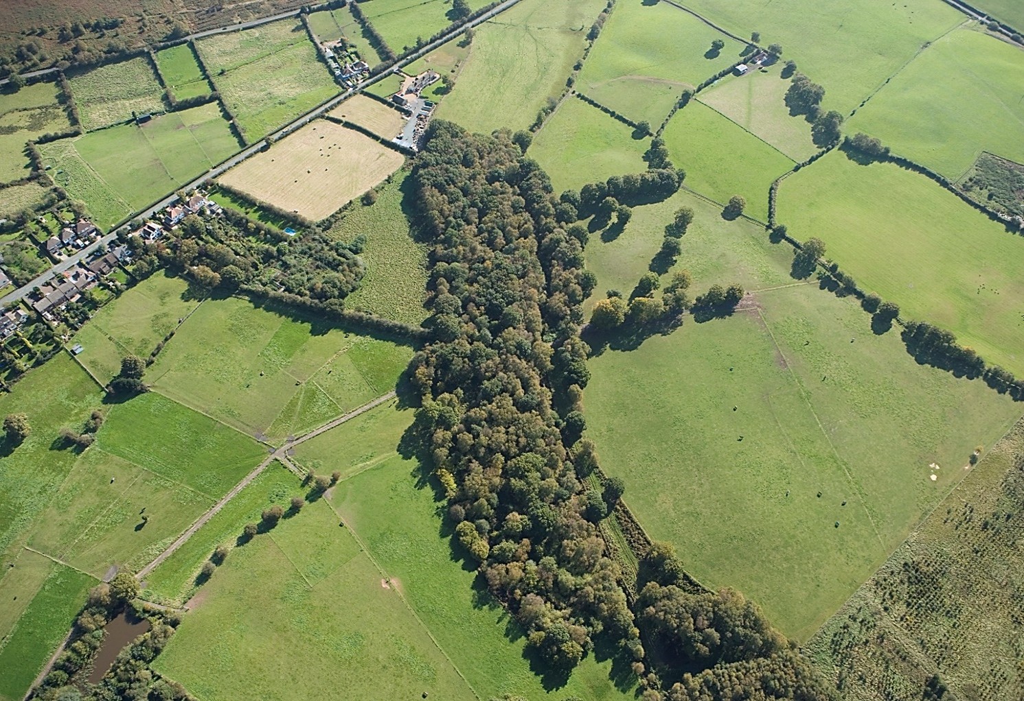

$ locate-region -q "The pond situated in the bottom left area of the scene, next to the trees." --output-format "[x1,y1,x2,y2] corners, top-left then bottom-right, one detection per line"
[90,607,151,684]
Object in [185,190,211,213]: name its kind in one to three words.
house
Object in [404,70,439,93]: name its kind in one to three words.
house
